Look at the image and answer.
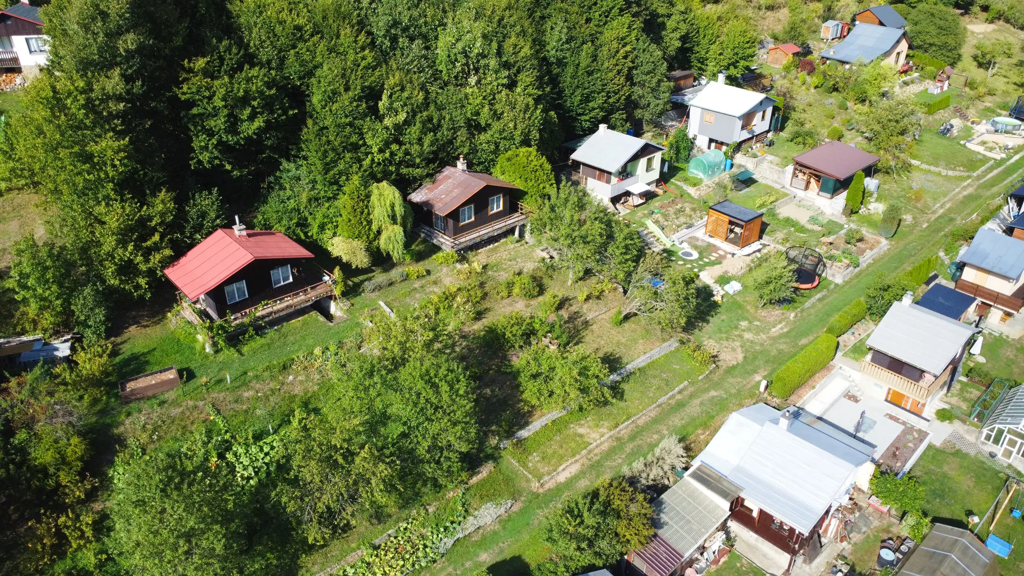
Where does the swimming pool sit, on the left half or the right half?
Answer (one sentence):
You can find the swimming pool on the right side of the picture.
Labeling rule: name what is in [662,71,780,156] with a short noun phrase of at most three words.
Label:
house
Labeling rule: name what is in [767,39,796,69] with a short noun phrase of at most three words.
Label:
shed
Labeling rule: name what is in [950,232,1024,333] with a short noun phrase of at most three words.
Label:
house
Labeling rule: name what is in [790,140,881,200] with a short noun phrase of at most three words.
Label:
shed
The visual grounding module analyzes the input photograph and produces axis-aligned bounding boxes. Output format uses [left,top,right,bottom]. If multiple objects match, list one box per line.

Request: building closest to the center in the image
[408,155,529,251]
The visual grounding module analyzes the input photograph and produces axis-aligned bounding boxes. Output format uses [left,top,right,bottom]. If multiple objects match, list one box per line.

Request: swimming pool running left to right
[988,117,1024,138]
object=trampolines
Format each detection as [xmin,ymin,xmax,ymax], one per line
[784,244,827,293]
[1007,95,1024,119]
